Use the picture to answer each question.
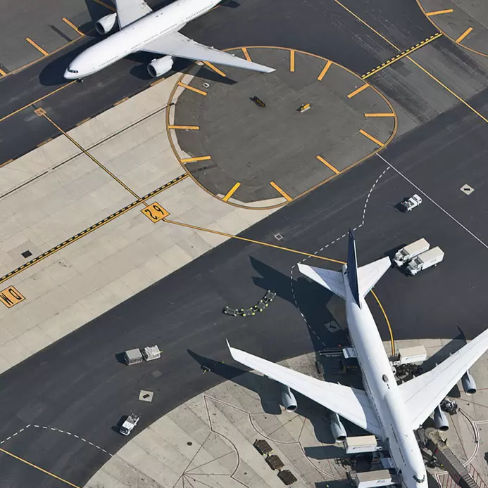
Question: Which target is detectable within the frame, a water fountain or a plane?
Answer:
plane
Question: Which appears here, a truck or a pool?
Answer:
truck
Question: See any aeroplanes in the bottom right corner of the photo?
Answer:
Yes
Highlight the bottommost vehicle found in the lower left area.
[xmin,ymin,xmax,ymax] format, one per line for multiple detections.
[119,408,140,432]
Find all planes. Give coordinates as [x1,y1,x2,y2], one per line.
[230,226,488,488]
[65,0,277,80]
